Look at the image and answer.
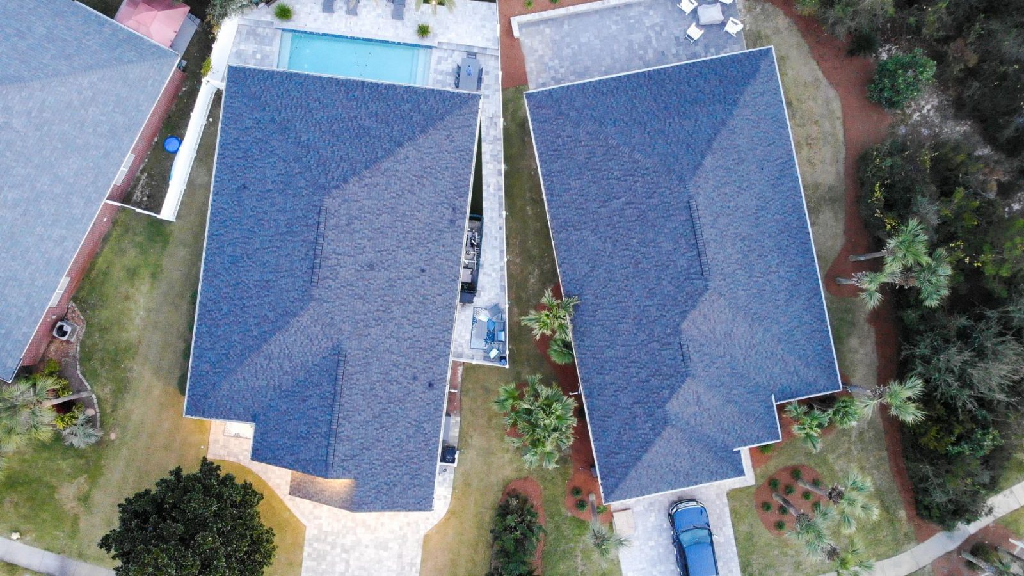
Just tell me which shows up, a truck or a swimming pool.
swimming pool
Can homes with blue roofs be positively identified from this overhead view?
Yes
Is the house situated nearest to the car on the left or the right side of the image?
right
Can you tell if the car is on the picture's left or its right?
right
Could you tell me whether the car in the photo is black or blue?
blue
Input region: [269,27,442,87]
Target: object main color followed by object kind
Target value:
blue swimming pool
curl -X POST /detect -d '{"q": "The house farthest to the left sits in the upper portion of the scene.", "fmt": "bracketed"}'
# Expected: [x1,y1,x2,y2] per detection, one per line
[0,0,188,386]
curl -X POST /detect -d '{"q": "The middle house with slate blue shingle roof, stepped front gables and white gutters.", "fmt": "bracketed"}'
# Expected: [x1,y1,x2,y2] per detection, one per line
[183,62,483,514]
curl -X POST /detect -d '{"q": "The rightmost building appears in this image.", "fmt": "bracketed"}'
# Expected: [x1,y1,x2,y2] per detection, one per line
[521,42,843,507]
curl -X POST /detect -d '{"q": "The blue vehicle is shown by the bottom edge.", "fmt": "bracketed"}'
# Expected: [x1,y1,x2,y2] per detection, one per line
[667,499,720,576]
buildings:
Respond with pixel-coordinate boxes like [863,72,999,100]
[183,62,483,514]
[521,42,843,507]
[0,0,188,386]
